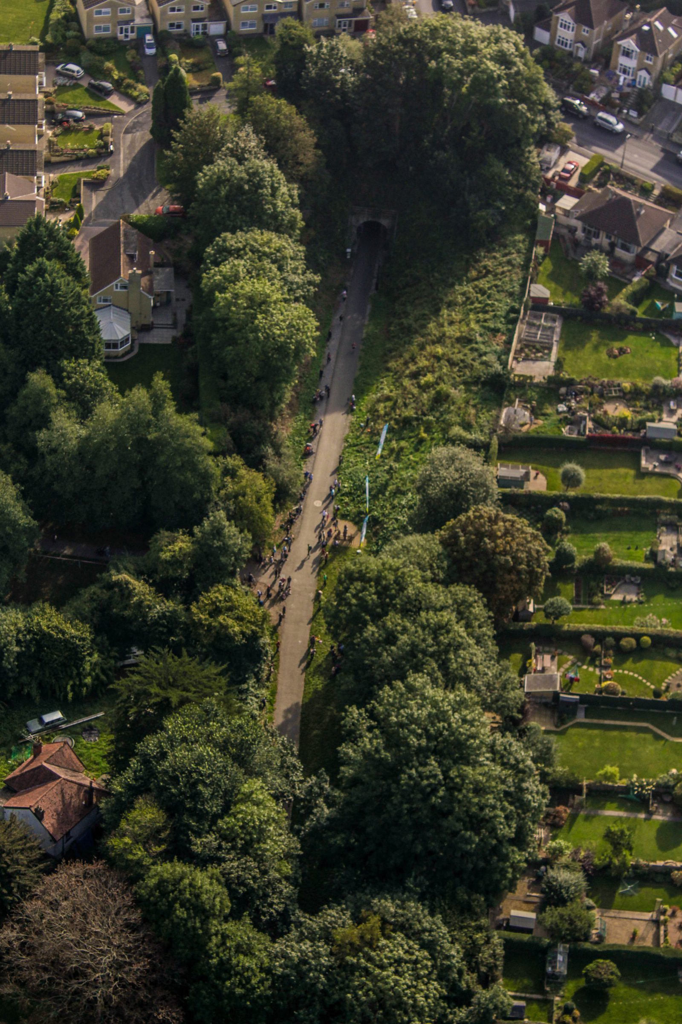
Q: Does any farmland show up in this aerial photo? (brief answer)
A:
No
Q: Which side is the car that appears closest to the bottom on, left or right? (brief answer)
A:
left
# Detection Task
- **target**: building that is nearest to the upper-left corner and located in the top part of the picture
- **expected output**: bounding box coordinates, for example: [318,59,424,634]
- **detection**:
[0,45,46,97]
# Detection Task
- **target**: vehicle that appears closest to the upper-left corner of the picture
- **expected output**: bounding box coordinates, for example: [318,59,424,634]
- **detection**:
[55,62,84,77]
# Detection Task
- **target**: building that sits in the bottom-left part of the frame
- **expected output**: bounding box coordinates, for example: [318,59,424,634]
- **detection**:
[3,727,107,872]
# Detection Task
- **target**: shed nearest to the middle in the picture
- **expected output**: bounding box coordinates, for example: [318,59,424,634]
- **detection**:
[497,465,531,491]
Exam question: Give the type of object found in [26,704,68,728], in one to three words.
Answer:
car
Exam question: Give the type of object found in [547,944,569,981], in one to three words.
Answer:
greenhouse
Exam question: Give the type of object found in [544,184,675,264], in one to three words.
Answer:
house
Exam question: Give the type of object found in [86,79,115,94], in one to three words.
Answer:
car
